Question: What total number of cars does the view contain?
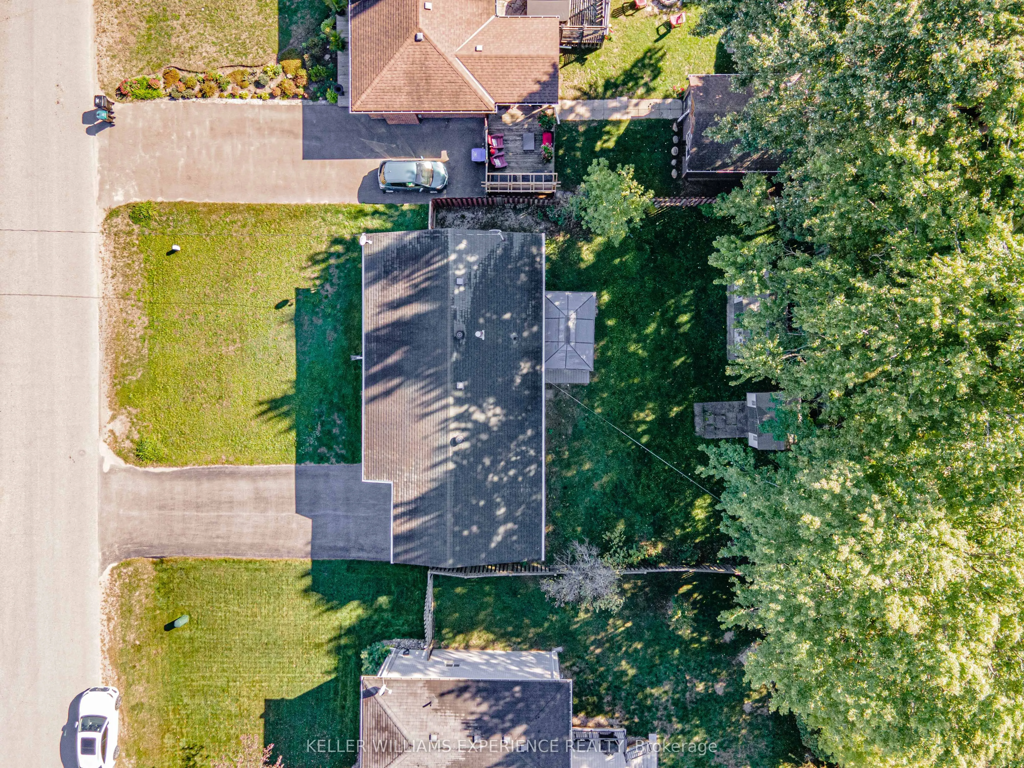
two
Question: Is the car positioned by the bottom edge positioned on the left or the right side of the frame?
left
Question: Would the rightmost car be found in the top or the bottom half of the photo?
top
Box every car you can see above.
[379,157,448,193]
[75,685,119,766]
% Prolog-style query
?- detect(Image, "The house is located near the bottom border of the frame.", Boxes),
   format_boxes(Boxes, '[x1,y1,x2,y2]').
[357,643,574,768]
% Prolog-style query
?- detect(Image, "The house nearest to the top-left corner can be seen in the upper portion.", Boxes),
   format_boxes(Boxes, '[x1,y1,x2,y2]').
[348,0,572,130]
